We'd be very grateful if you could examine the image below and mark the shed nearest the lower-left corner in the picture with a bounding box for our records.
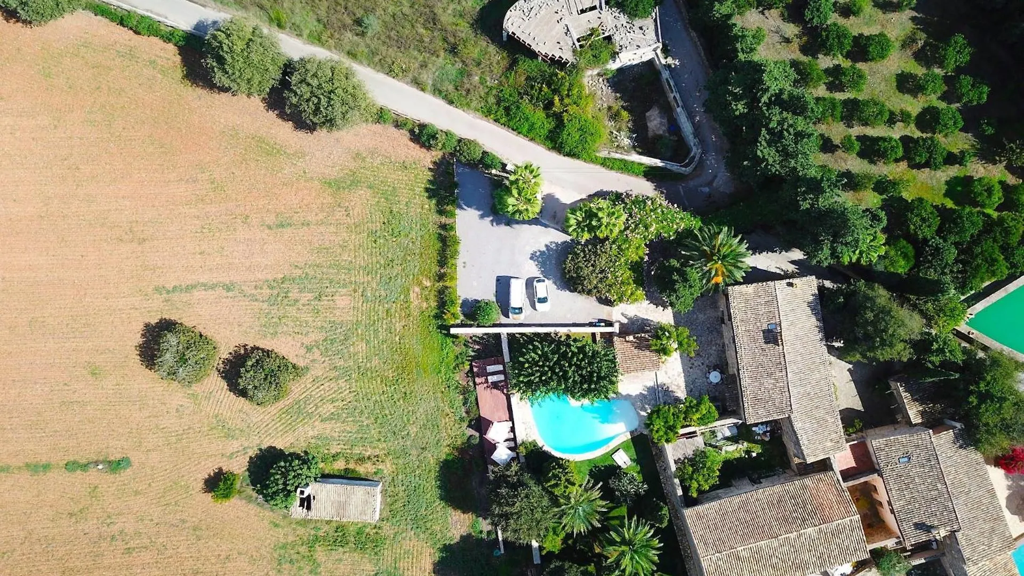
[291,477,384,523]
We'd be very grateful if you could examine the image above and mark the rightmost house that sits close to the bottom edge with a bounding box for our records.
[867,421,1024,576]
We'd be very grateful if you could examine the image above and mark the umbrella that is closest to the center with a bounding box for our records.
[485,417,514,445]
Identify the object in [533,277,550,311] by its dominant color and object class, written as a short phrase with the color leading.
white car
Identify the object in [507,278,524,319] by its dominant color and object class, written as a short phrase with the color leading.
white vehicle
